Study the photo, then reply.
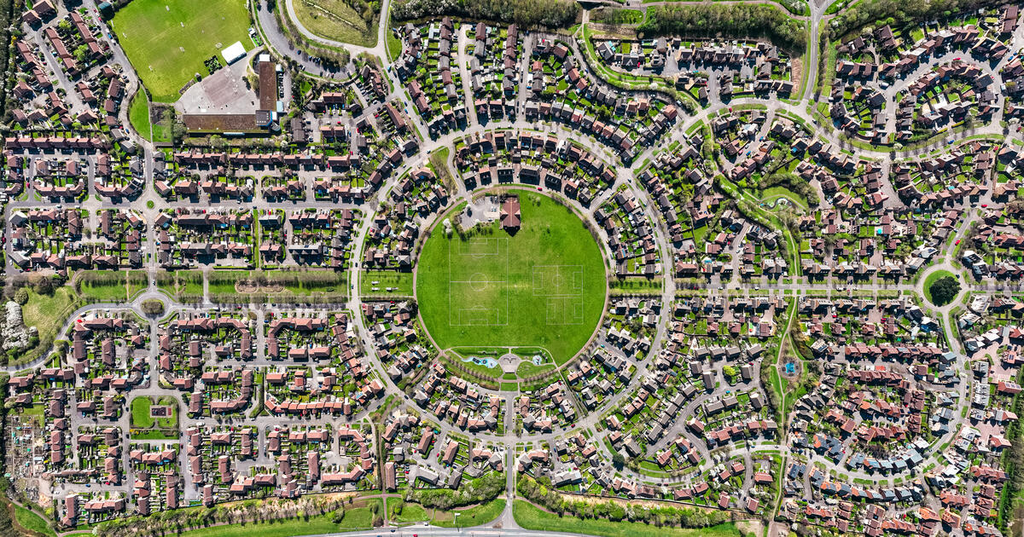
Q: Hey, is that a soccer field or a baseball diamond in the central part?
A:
soccer field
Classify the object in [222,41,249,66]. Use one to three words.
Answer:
building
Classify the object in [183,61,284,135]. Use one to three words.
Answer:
building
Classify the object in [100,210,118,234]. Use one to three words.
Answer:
house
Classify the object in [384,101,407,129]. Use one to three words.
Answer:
house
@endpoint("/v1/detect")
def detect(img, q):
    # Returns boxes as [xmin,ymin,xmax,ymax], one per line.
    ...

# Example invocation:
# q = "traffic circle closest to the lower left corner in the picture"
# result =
[135,288,170,323]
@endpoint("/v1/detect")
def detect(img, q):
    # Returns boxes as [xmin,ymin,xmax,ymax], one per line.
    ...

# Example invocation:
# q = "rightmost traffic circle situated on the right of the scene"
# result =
[917,263,967,313]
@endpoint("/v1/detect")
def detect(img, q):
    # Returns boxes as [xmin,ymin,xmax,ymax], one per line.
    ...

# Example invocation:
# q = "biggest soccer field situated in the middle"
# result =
[448,236,509,326]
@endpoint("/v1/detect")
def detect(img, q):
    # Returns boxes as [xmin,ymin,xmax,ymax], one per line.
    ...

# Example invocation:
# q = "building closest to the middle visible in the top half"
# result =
[499,196,521,229]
